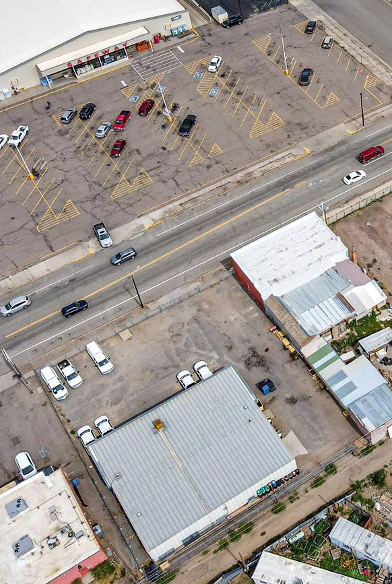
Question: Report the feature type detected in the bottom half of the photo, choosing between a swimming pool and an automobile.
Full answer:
Looking in the bottom half of the photo, you will find an automobile.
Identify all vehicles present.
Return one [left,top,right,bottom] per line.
[7,125,32,147]
[76,422,96,456]
[302,18,319,35]
[109,138,129,158]
[94,121,114,139]
[137,98,156,117]
[94,411,114,435]
[43,364,67,398]
[178,114,198,136]
[208,56,223,72]
[87,339,113,371]
[0,294,32,315]
[59,299,91,318]
[342,170,368,185]
[357,145,386,162]
[177,368,196,388]
[15,450,38,481]
[59,107,78,124]
[296,66,315,85]
[112,109,134,132]
[0,134,11,148]
[194,359,213,379]
[77,101,99,120]
[110,245,138,266]
[221,14,244,29]
[92,222,113,247]
[55,357,81,388]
